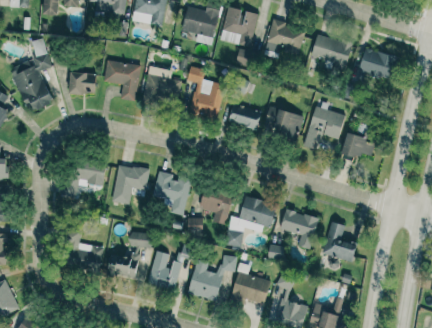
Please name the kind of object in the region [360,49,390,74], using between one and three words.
house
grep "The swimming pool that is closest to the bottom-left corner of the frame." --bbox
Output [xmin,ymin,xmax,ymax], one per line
[113,222,127,236]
